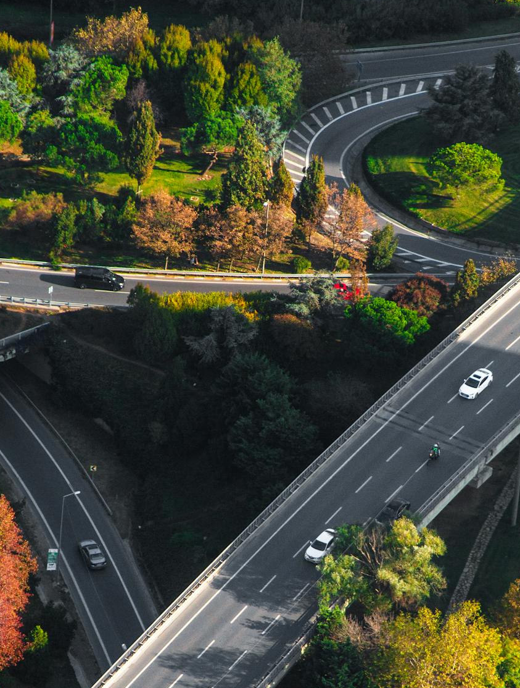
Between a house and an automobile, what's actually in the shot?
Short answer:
automobile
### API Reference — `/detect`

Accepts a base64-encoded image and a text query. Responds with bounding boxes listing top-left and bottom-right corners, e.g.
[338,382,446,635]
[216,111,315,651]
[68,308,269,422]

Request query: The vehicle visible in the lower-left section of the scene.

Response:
[79,540,107,571]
